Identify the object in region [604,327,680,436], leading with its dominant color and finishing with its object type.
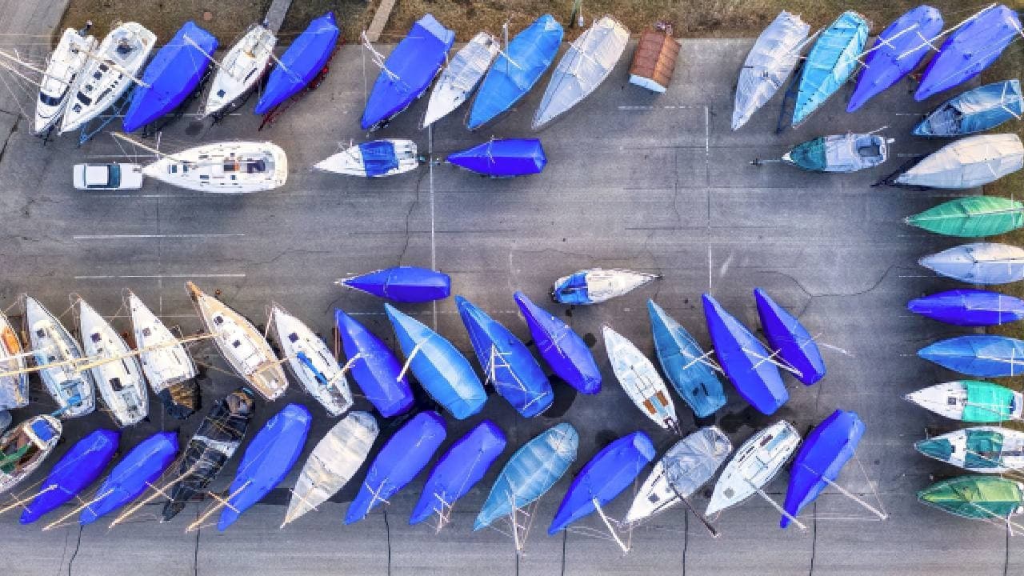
white boat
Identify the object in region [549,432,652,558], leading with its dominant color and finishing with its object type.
blue boat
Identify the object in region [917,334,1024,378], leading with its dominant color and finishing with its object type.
blue boat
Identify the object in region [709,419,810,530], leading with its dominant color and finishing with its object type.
white boat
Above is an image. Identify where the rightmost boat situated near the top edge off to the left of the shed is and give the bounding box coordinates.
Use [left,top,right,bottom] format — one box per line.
[532,13,629,130]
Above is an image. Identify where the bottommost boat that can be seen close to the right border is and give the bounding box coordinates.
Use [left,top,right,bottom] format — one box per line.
[918,476,1024,539]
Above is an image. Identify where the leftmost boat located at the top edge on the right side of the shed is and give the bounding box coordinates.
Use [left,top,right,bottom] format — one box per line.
[734,9,829,129]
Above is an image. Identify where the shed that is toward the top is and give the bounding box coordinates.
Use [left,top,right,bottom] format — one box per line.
[628,32,681,93]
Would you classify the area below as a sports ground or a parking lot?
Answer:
parking lot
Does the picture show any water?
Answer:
No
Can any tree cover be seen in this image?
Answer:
No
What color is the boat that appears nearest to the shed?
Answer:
white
